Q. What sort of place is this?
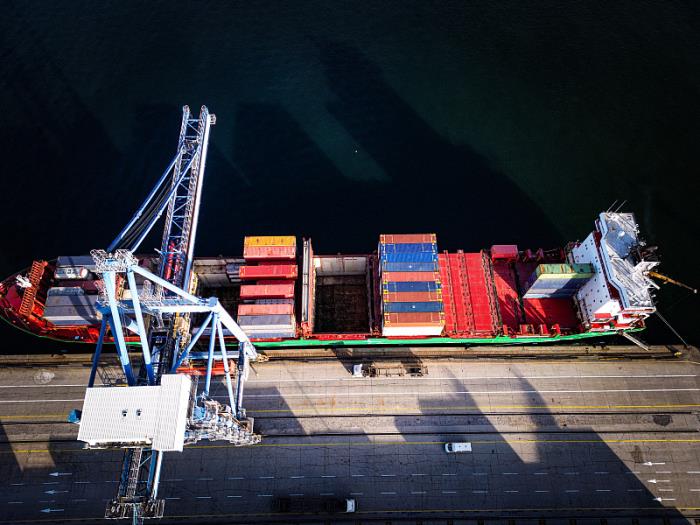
port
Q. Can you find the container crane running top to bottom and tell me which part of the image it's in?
left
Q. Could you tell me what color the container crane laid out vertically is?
white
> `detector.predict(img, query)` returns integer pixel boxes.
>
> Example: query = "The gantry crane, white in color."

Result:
[67,105,269,525]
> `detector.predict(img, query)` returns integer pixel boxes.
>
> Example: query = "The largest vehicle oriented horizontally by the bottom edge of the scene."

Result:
[279,498,357,514]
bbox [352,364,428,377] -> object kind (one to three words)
vehicle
